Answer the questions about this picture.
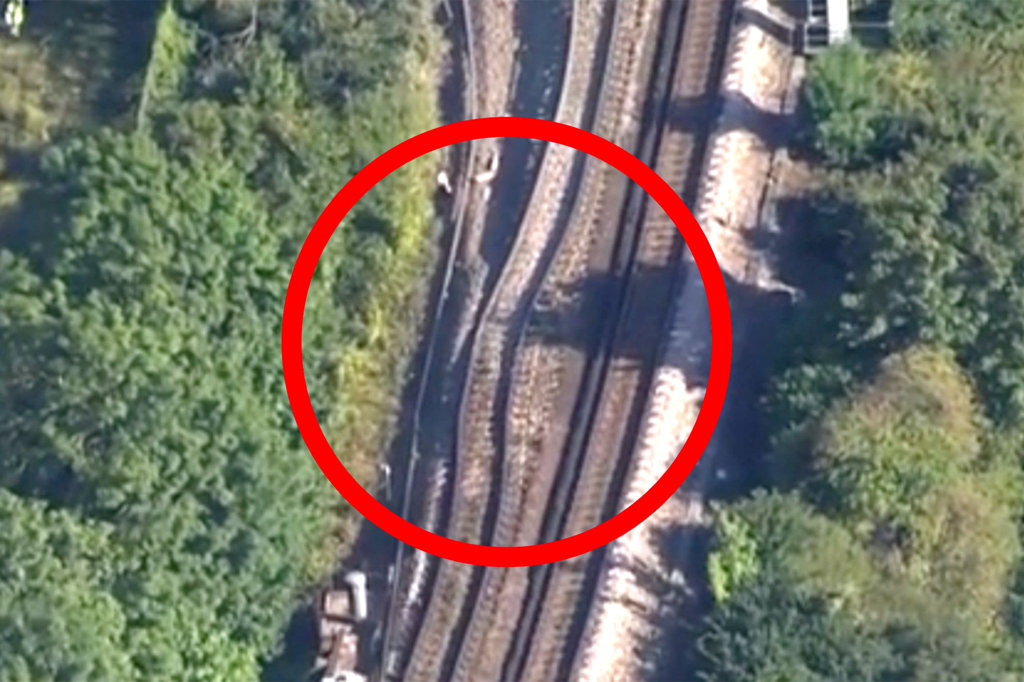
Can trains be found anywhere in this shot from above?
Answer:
No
